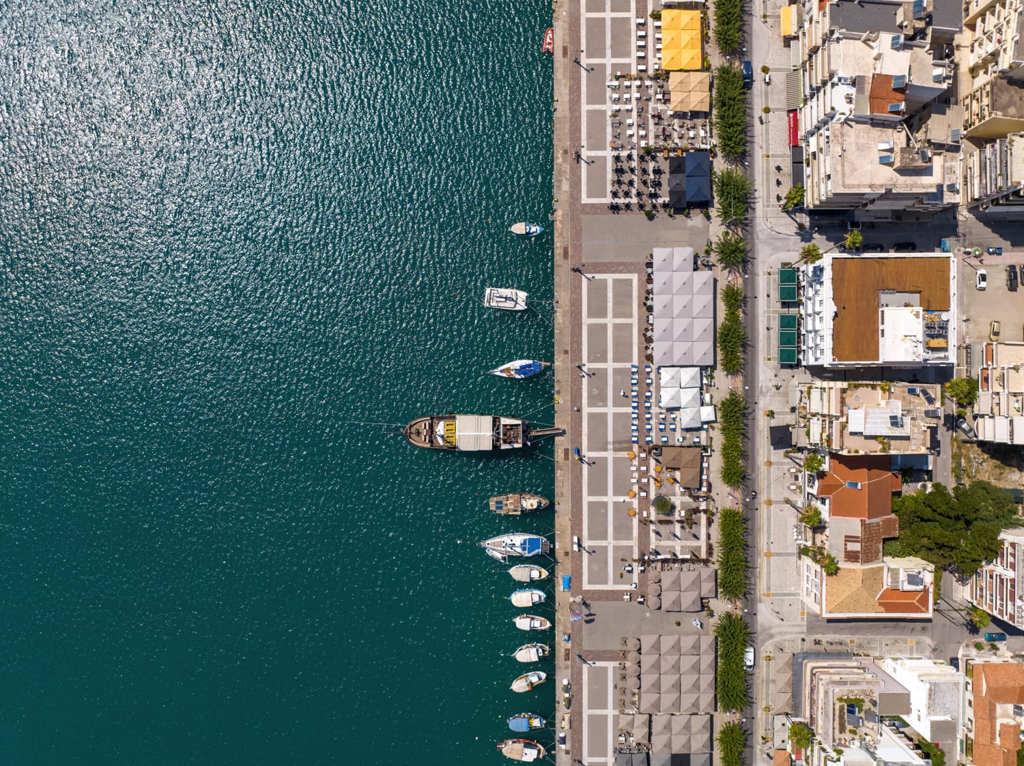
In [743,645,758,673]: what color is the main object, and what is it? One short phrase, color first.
white vehicle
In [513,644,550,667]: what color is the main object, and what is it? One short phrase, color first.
white boat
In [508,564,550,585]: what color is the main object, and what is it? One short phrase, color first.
white boat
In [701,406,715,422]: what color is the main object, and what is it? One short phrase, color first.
white umbrella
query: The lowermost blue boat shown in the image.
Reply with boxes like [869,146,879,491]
[507,714,546,736]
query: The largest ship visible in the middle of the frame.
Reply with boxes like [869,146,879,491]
[392,412,560,451]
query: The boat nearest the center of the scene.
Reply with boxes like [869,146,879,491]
[489,359,553,378]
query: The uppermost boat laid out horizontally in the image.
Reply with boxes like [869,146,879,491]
[509,220,545,237]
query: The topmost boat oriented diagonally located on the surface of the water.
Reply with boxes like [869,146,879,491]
[487,551,506,567]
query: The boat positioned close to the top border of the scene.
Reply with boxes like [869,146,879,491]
[542,26,554,54]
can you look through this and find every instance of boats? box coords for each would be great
[513,615,552,634]
[484,287,527,309]
[489,359,553,378]
[513,644,550,667]
[509,220,545,237]
[508,589,548,611]
[511,673,546,696]
[482,536,553,563]
[507,714,546,736]
[491,495,549,519]
[487,551,506,567]
[508,564,550,585]
[542,26,554,54]
[499,740,546,766]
